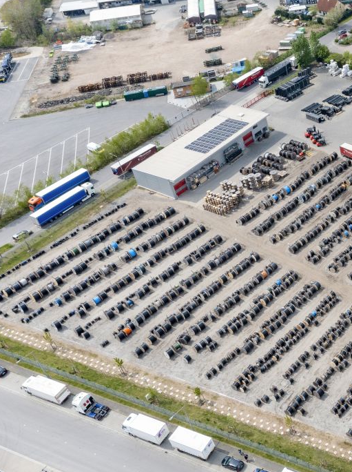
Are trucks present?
Yes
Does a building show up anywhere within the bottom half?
No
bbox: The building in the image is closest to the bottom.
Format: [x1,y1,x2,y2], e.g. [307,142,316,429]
[129,104,273,200]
